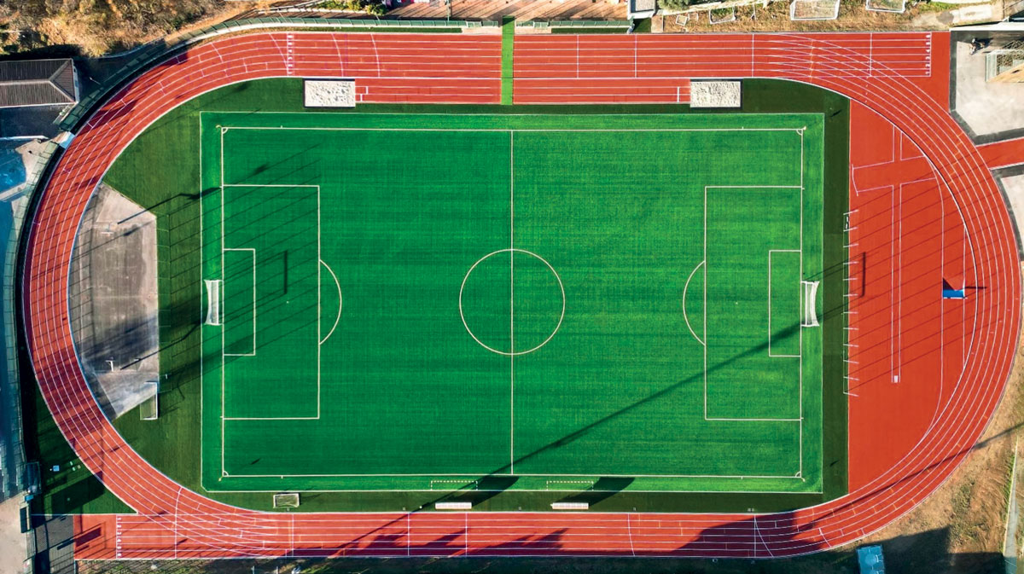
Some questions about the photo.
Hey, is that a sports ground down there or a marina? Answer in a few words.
sports ground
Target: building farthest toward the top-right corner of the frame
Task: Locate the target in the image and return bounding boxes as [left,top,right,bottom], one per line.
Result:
[986,50,1024,83]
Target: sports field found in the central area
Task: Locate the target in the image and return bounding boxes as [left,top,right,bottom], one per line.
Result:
[200,112,825,494]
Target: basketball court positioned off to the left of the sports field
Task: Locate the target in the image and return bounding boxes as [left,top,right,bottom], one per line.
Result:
[69,181,159,422]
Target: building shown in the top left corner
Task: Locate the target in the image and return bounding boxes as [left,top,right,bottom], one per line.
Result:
[0,58,83,107]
